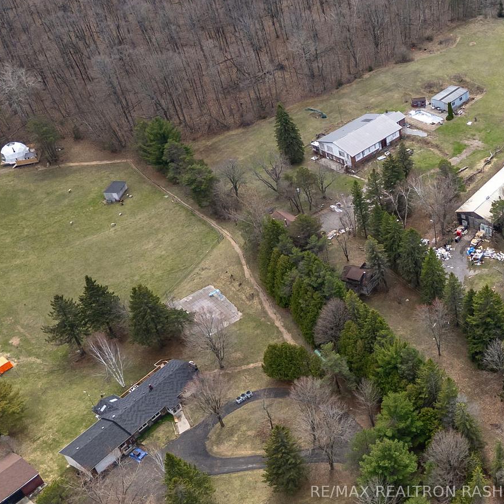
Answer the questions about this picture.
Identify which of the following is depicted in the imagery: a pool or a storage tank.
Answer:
pool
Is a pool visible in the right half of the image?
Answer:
Yes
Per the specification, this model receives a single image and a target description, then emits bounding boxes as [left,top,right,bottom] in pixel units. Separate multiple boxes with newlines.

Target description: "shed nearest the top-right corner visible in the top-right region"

[436,85,469,109]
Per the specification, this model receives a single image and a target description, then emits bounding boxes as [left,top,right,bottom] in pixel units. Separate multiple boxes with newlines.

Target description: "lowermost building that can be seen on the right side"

[340,259,380,300]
